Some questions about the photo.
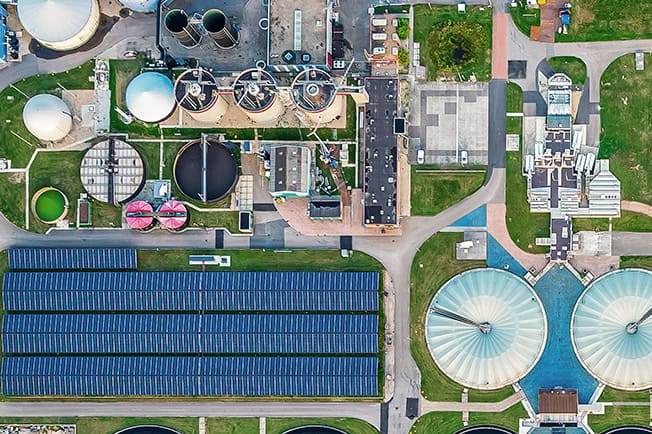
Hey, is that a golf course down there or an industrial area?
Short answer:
industrial area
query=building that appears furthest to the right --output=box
[585,160,620,216]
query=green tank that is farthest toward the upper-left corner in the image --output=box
[31,186,73,223]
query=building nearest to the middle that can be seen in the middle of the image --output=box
[309,197,341,218]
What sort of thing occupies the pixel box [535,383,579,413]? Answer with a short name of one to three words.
building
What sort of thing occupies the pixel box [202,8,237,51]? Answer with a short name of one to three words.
silo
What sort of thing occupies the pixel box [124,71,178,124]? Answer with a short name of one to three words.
storage tank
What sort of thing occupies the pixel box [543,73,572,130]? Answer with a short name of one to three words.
house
